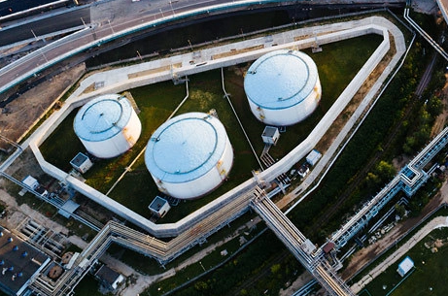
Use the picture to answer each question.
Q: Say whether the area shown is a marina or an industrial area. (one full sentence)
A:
What you see here is an industrial area.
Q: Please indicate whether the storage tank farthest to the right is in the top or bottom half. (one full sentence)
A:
The storage tank farthest to the right is in the top half of the image.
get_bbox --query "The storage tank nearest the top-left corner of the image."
[74,95,145,160]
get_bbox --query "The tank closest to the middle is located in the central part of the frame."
[146,115,237,205]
